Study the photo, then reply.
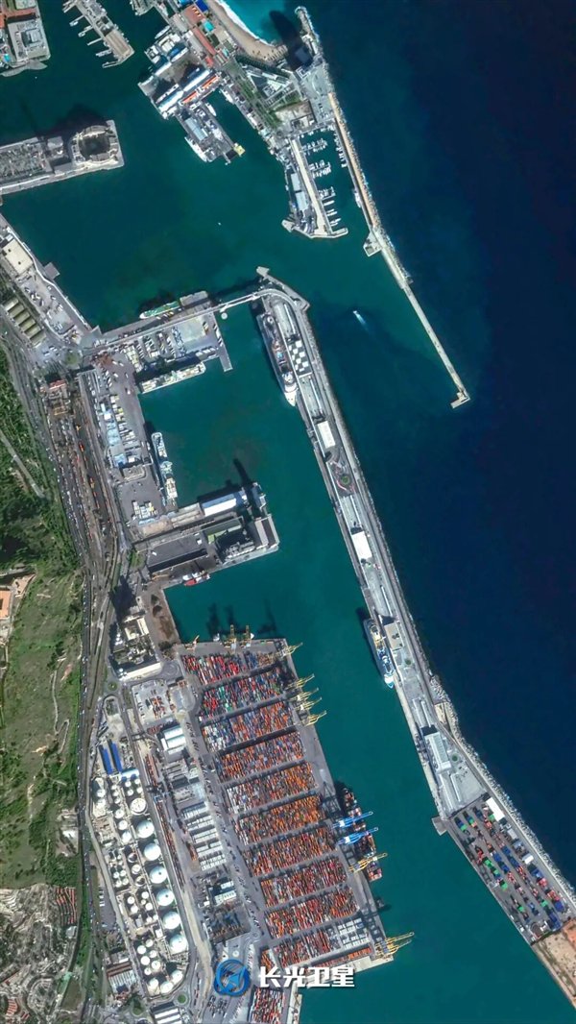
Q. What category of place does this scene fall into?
port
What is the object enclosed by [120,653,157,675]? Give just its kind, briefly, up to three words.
building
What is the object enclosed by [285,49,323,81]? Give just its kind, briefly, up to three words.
building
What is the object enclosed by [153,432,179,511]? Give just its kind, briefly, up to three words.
ship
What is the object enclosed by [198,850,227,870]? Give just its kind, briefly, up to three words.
shed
